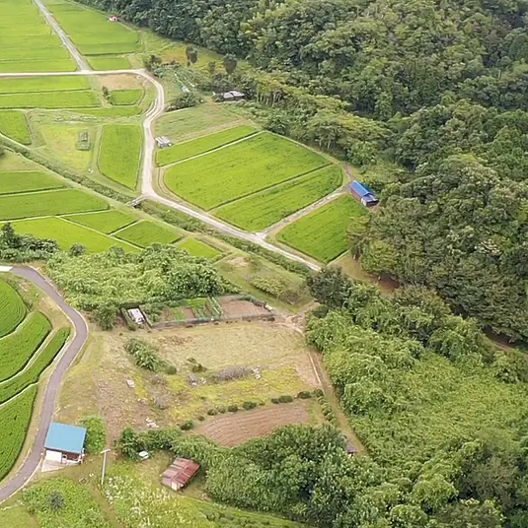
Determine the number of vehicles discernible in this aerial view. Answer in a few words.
0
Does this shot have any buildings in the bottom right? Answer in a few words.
No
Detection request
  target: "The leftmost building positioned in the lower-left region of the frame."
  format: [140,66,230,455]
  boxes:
[46,424,85,462]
